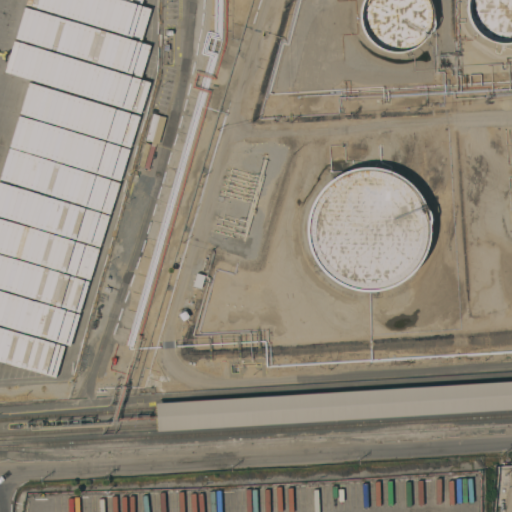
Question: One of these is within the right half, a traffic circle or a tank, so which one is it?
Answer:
tank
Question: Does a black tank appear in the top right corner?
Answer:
No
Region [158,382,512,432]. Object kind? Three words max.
shed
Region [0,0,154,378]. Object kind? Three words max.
warehouse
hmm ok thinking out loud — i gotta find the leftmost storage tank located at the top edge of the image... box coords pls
[361,0,438,56]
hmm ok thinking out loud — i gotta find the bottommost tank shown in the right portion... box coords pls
[306,166,434,293]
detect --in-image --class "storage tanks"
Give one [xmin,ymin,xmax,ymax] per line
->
[306,166,434,293]
[466,0,512,47]
[361,0,438,56]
